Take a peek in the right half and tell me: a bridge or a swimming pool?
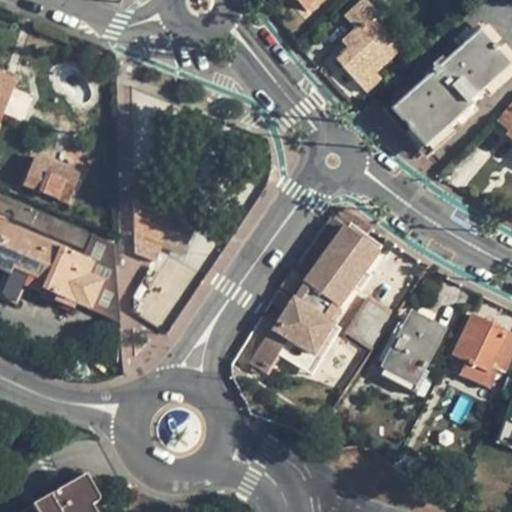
swimming pool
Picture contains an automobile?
Yes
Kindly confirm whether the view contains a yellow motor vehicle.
No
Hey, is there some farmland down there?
No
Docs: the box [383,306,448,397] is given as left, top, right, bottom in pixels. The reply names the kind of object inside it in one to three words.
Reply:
house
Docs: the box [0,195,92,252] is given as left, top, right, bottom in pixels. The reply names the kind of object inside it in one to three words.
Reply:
building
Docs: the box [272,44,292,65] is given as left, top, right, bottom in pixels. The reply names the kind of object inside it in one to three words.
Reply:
car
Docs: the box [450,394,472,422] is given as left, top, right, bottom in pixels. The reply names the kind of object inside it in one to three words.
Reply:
swimming pool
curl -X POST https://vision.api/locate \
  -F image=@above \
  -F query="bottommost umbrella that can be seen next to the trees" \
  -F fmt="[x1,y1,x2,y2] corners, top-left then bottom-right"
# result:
[439,429,454,445]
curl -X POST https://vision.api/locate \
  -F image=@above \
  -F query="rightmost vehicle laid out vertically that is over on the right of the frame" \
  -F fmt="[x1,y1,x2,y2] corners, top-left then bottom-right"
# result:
[439,304,452,326]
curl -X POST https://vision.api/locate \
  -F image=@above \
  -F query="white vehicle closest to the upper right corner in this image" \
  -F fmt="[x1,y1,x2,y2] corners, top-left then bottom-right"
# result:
[377,153,398,172]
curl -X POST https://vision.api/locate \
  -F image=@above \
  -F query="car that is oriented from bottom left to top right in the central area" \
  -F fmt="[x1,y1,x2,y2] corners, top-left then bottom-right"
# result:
[266,248,283,268]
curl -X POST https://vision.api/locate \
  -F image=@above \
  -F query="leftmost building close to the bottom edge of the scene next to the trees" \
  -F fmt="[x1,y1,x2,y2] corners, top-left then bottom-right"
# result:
[34,472,106,512]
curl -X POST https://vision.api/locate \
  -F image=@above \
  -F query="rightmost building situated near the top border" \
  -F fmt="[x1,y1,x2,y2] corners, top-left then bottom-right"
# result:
[393,24,512,154]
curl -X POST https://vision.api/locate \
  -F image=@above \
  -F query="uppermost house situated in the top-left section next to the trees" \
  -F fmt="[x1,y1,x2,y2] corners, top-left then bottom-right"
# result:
[0,66,34,121]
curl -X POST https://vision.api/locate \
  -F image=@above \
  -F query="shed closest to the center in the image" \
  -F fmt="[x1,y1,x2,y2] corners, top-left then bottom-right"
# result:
[187,231,218,270]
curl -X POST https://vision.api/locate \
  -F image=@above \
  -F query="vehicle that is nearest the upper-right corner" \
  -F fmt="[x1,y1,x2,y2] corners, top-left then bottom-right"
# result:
[326,23,345,44]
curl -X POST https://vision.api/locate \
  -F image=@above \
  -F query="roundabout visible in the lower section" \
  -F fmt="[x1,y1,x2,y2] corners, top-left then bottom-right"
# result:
[152,402,206,457]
